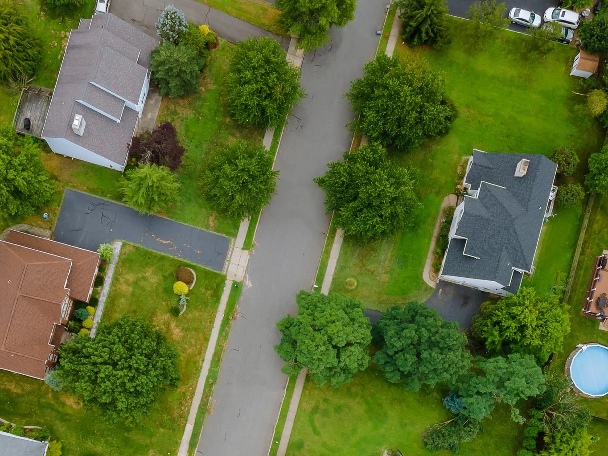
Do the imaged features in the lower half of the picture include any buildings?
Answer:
Yes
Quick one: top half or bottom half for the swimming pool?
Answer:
bottom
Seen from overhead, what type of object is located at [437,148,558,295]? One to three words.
house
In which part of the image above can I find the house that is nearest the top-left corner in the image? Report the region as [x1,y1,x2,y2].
[41,11,162,171]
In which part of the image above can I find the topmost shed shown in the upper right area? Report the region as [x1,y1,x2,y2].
[570,50,601,79]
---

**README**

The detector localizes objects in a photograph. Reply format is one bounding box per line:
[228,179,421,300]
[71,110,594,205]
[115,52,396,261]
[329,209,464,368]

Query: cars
[94,0,111,13]
[506,8,539,32]
[537,26,574,47]
[542,9,581,32]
